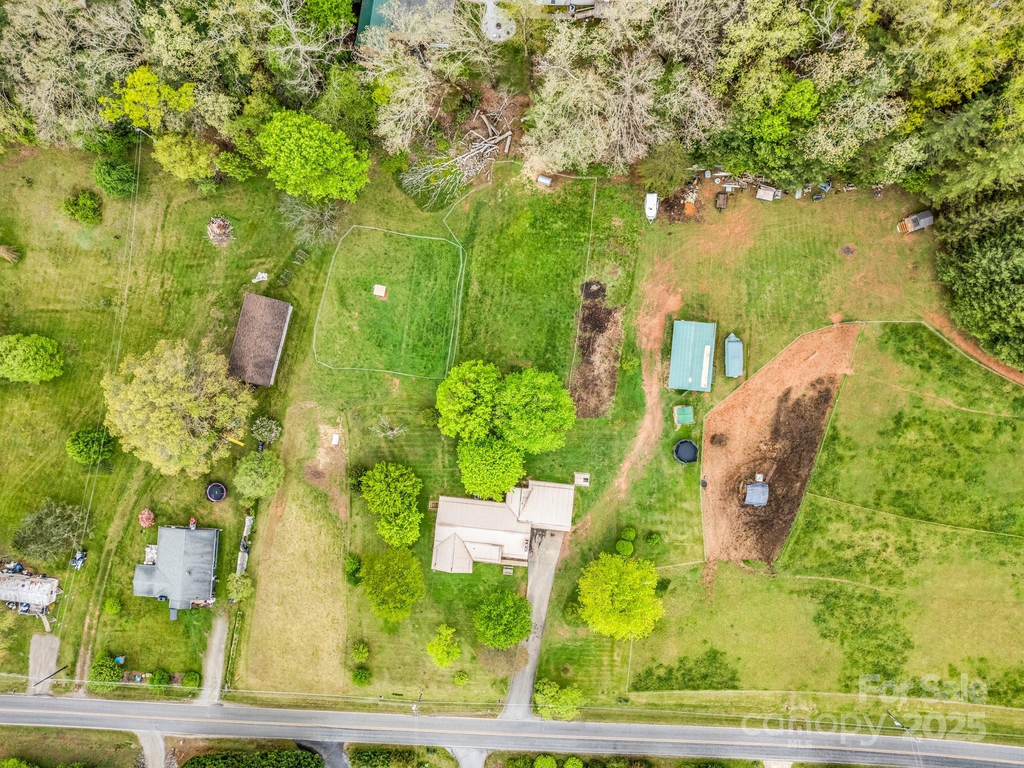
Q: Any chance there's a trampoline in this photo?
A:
Yes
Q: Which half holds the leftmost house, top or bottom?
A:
bottom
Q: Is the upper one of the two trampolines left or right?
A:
right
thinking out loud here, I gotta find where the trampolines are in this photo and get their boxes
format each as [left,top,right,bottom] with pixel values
[675,441,699,466]
[204,482,227,504]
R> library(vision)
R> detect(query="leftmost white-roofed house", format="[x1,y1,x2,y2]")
[0,573,62,609]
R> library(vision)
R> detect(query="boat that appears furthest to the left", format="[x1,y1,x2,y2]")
[644,194,660,225]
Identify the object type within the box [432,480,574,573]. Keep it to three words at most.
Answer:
house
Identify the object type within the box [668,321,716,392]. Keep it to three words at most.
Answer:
barn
